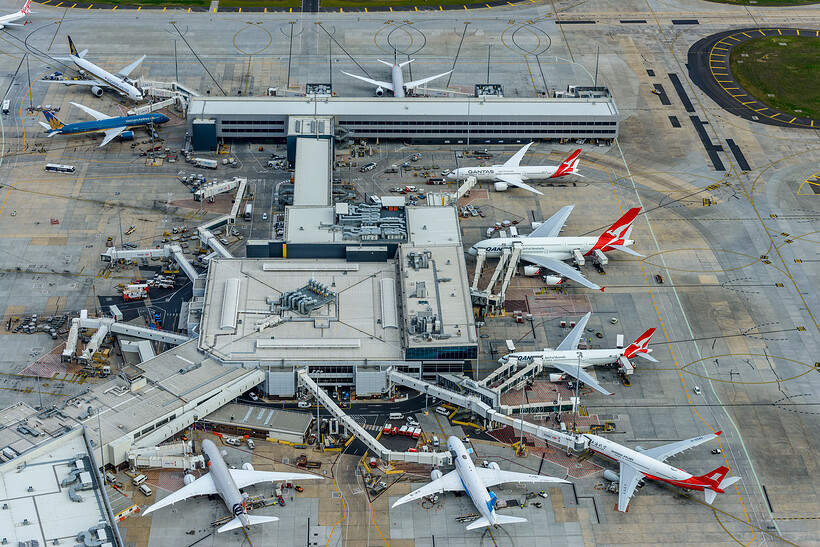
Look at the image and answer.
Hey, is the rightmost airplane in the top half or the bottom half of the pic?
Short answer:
bottom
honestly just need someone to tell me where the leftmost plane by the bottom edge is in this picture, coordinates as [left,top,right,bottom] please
[144,443,324,536]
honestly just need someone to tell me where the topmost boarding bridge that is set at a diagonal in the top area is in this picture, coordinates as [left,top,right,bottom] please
[427,175,477,210]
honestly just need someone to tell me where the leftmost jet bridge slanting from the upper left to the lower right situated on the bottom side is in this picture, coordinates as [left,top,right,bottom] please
[299,372,457,477]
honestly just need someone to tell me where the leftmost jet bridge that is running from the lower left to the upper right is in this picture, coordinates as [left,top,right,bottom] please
[78,321,110,365]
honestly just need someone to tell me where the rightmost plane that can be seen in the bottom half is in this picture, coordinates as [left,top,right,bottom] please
[585,432,745,515]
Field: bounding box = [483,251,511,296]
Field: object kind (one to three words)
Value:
jet bridge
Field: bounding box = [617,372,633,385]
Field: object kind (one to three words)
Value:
vehicle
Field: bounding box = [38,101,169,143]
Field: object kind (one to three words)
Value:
airplane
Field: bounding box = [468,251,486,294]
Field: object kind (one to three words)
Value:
jet bridge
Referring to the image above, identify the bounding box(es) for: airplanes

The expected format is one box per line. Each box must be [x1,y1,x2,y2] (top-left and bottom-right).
[38,33,145,101]
[500,309,661,393]
[341,41,453,96]
[144,443,324,536]
[0,0,42,33]
[448,141,587,193]
[585,432,745,515]
[394,438,572,531]
[471,200,650,288]
[38,101,169,143]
